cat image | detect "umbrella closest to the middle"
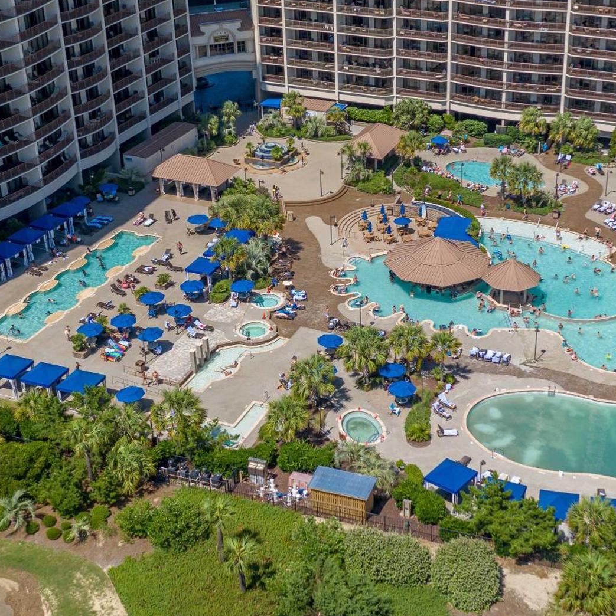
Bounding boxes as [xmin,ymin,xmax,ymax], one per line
[315,335,343,352]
